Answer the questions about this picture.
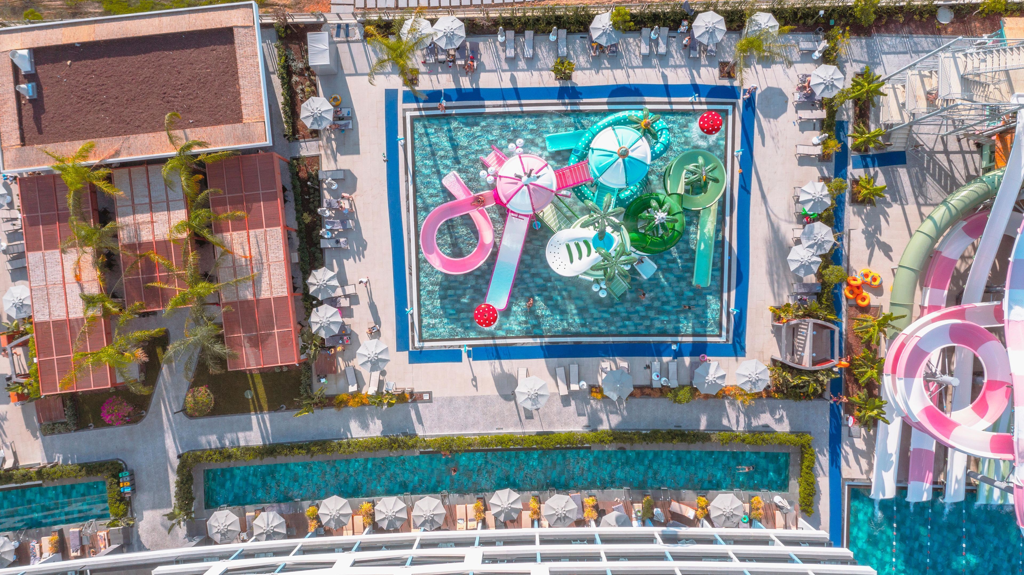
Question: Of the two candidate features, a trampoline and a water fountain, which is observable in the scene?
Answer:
water fountain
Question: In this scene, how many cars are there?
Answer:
none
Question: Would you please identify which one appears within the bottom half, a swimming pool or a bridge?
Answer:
swimming pool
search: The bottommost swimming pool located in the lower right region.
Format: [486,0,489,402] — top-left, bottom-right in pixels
[850,488,1024,575]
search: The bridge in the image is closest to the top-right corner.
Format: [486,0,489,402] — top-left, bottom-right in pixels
[554,161,593,190]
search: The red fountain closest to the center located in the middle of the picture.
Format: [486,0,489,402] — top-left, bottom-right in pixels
[474,303,498,327]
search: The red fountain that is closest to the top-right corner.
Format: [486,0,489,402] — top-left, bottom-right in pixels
[695,111,723,136]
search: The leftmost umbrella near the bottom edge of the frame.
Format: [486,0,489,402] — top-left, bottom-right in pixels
[0,531,31,565]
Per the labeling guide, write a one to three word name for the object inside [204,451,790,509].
swimming pool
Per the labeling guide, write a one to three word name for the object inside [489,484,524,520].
umbrella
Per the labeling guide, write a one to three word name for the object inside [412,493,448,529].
umbrella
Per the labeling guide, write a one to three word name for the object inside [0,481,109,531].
swimming pool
